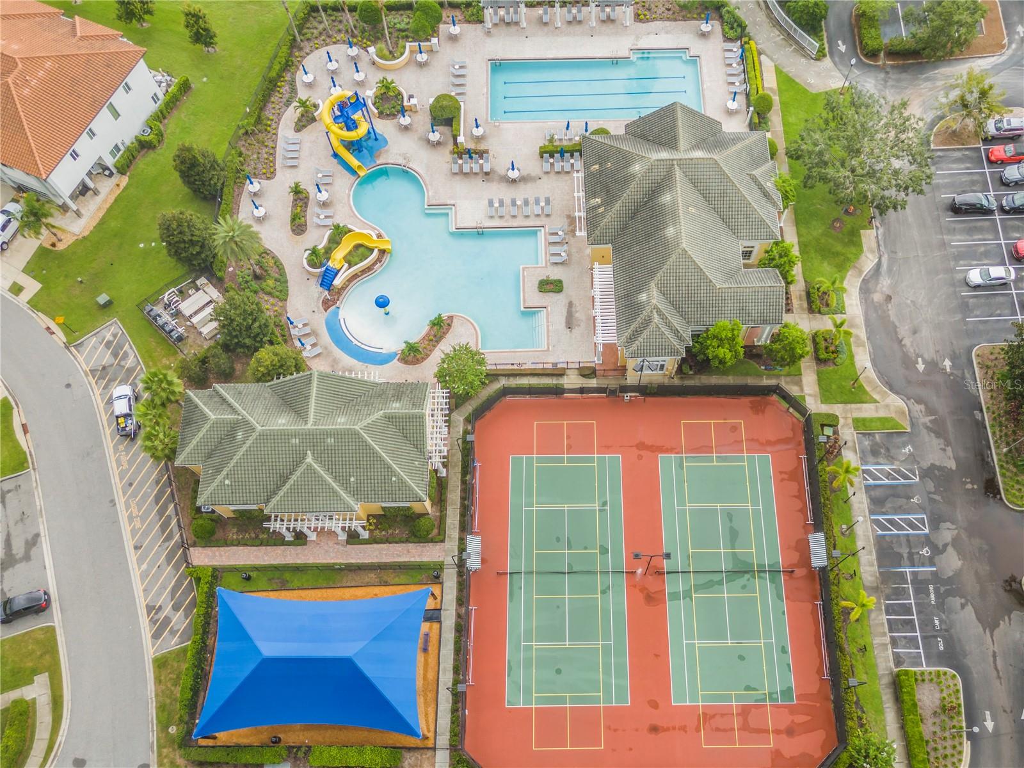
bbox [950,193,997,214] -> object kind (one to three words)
car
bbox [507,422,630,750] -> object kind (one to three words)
tennis court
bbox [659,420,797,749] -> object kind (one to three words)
tennis court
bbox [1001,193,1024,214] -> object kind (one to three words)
car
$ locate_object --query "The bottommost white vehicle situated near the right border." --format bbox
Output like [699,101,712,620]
[965,266,1015,287]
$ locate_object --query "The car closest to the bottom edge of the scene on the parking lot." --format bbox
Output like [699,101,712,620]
[0,593,51,621]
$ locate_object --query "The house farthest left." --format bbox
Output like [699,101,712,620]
[0,0,159,204]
